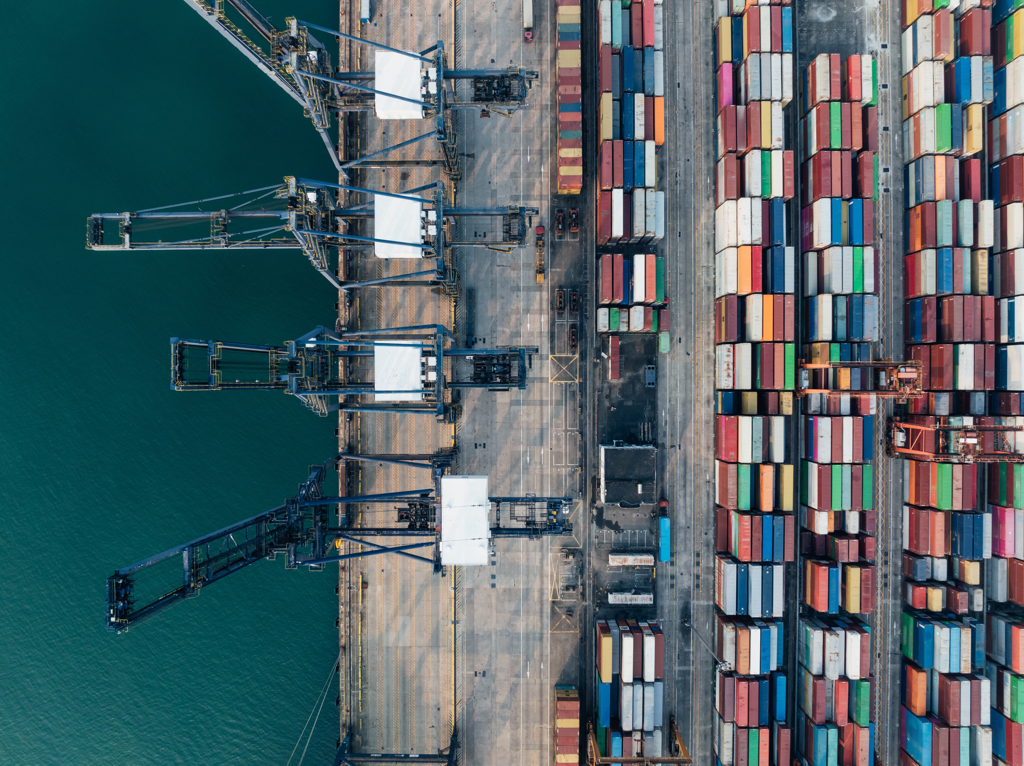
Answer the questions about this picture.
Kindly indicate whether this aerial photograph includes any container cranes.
Yes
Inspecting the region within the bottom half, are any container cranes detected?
Yes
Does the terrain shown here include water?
Yes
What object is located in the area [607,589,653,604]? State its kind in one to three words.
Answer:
shed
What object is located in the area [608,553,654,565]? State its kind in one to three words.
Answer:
shed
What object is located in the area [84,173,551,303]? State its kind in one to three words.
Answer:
container crane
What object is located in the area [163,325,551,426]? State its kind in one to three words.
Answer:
container crane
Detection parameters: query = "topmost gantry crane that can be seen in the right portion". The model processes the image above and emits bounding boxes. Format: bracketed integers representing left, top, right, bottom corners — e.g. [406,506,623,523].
[798,358,928,401]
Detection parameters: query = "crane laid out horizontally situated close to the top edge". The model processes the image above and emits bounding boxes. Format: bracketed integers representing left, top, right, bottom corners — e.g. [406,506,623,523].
[186,0,551,190]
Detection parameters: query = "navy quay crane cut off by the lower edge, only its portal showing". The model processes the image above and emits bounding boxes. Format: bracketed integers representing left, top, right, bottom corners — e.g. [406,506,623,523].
[332,722,468,766]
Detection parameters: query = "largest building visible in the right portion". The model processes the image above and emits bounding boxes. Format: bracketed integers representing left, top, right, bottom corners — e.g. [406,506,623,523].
[599,438,656,510]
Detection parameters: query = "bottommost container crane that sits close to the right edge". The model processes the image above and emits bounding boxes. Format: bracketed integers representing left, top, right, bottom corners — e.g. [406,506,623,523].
[889,415,1024,462]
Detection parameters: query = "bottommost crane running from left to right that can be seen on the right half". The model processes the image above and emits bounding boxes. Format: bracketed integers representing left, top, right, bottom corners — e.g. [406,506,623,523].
[585,714,693,766]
